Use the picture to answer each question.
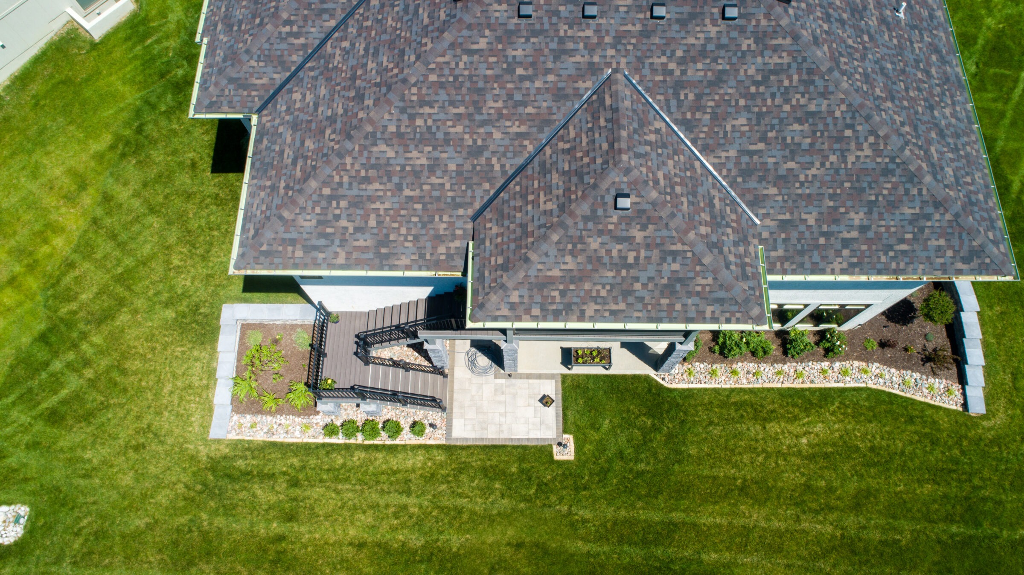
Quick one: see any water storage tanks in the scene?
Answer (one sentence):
No, the photo shows no water storage tank.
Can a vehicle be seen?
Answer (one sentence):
No, the frame has no vehicle in it.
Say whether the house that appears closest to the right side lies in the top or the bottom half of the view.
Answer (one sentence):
The top half of the photo is where the house that appears closest to the right side is.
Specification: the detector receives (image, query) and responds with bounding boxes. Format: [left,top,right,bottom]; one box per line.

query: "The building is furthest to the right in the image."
[189,0,1019,332]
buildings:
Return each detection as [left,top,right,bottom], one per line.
[0,0,96,81]
[189,0,1019,332]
